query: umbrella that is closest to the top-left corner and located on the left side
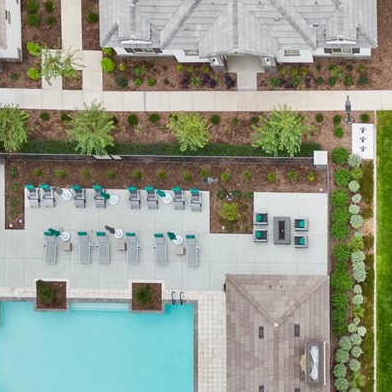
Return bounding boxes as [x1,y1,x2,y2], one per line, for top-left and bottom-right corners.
[50,182,70,200]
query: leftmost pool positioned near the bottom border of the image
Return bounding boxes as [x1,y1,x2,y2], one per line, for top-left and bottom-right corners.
[0,291,198,392]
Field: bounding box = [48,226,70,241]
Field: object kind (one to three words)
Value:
umbrella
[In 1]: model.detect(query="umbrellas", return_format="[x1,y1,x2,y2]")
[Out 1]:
[50,182,70,200]
[169,230,183,245]
[106,224,124,239]
[157,186,170,203]
[100,188,118,205]
[48,226,70,241]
